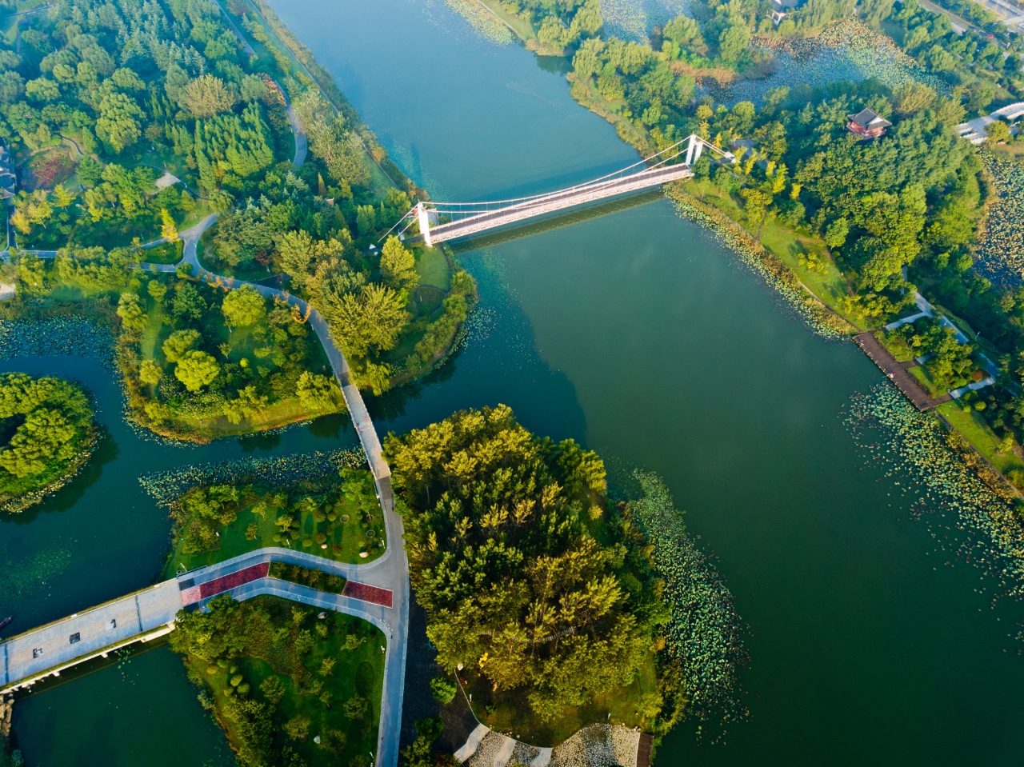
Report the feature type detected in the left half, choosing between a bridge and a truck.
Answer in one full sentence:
It is a bridge that can be seen in the left half.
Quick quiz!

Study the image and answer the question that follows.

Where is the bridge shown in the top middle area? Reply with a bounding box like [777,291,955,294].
[366,130,737,256]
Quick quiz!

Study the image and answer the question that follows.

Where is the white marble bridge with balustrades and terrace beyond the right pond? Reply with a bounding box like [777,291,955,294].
[955,95,1024,145]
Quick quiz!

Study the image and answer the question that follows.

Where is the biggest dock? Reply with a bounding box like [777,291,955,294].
[854,326,953,411]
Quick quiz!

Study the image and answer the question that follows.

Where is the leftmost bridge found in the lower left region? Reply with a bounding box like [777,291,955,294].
[0,570,184,701]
